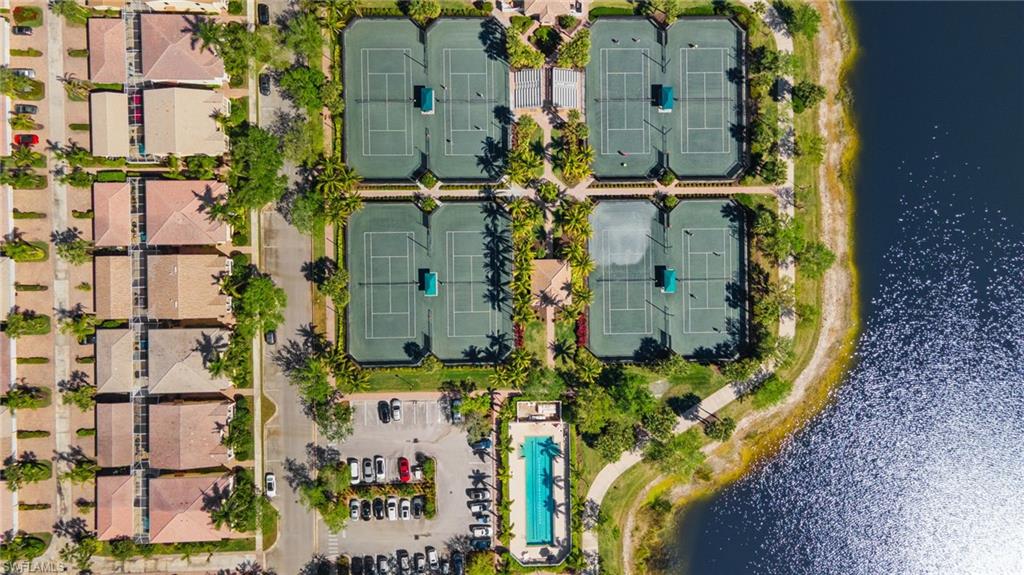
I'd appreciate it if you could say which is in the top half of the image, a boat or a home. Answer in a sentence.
Visible in the top half of the image is a home.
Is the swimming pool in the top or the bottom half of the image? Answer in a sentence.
It is in the bottom half that the swimming pool appears.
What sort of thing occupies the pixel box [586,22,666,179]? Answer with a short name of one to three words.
tennis court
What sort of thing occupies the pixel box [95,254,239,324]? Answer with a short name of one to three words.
house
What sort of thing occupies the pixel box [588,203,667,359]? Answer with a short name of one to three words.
tennis court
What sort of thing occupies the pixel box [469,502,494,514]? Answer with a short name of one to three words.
vehicle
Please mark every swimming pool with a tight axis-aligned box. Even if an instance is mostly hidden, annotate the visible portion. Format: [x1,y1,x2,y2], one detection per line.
[509,421,570,565]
